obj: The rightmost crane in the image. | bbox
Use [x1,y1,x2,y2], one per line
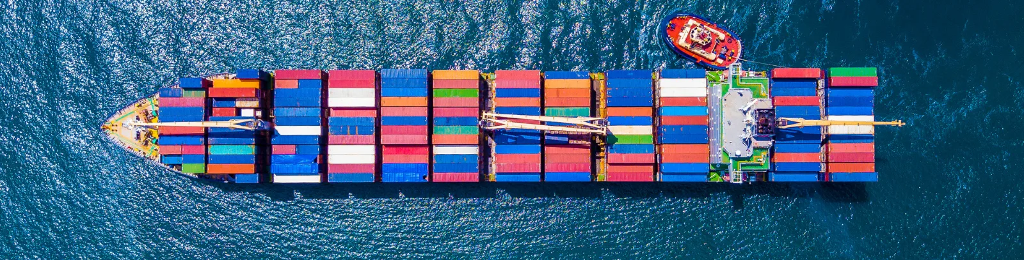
[774,114,907,129]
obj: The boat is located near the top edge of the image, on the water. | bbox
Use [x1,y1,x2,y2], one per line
[661,12,746,70]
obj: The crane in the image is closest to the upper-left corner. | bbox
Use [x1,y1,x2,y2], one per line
[131,118,283,131]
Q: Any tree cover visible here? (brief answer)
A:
No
